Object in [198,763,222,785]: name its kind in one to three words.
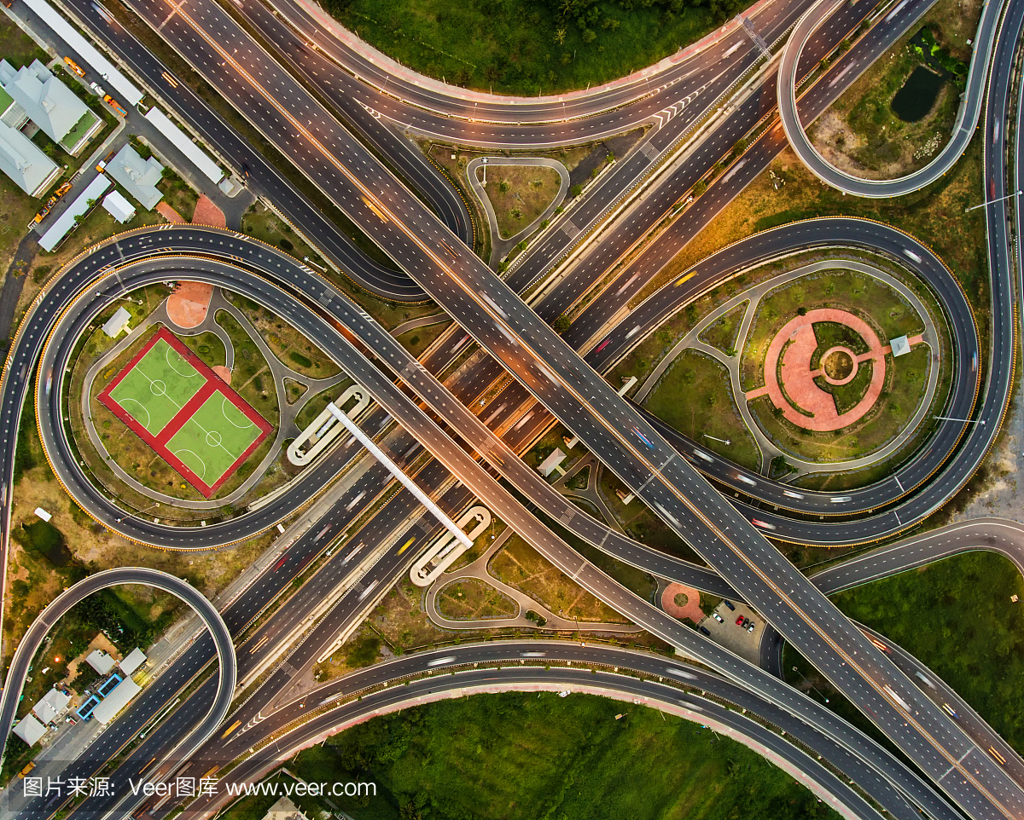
bus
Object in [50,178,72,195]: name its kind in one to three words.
vehicle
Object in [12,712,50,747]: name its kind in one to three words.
house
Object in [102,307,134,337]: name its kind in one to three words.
building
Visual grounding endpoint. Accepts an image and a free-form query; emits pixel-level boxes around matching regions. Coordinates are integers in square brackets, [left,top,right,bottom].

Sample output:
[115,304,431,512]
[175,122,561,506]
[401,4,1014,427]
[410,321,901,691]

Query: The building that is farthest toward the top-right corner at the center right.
[886,335,910,357]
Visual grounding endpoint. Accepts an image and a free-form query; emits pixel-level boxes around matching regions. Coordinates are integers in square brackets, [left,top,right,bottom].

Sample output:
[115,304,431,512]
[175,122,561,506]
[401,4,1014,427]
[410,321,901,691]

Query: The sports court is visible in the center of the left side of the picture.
[96,328,273,498]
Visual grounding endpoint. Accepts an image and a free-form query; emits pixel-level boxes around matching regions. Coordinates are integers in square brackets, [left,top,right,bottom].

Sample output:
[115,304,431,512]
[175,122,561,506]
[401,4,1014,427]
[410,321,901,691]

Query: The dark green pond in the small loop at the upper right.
[892,65,949,122]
